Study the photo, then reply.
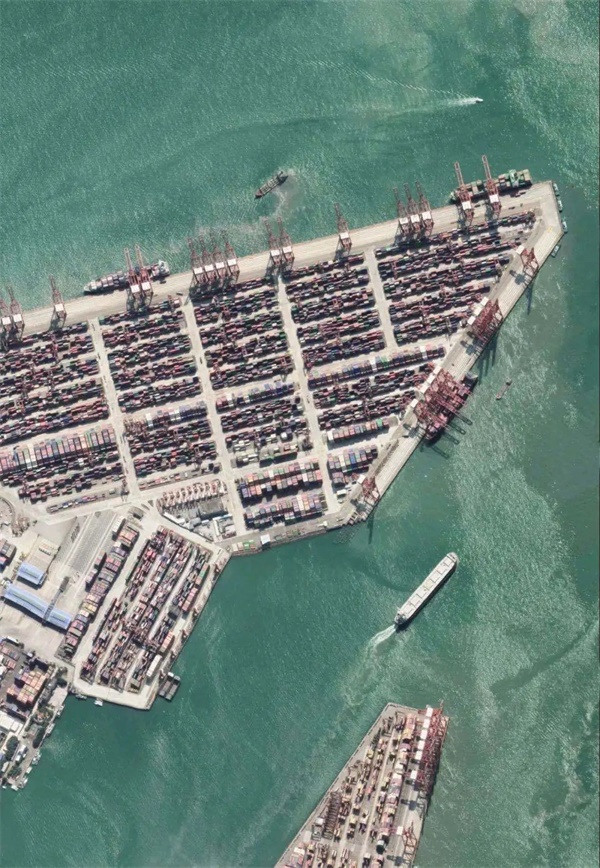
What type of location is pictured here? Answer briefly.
port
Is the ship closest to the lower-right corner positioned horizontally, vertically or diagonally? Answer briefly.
diagonally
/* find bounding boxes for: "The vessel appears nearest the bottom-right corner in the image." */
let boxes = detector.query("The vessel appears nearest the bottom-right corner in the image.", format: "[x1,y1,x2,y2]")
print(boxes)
[395,553,456,630]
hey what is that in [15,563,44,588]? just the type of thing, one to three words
building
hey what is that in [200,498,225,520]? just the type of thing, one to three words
building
